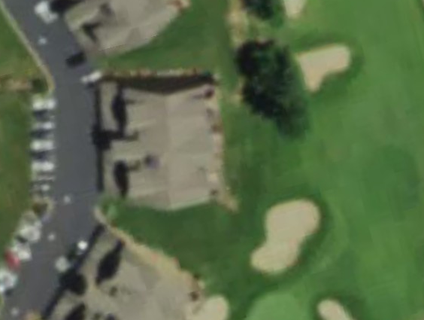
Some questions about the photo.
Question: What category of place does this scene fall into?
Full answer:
It's a golf course.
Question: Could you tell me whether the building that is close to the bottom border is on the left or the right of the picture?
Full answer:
It is on the left.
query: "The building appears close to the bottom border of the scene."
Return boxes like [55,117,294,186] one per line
[51,228,206,320]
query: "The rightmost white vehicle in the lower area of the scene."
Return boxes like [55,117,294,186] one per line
[78,238,90,255]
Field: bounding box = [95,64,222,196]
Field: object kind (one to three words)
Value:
building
